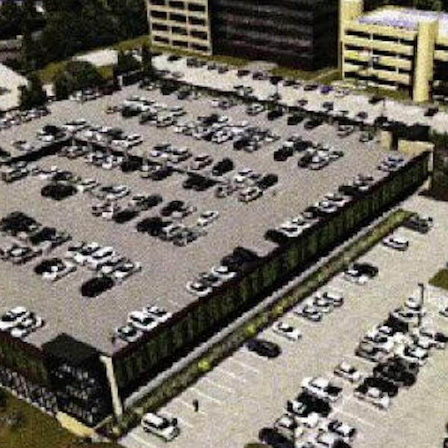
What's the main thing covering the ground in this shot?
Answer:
buildings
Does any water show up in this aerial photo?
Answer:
No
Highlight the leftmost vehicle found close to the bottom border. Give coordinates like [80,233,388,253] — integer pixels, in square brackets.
[141,411,180,441]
